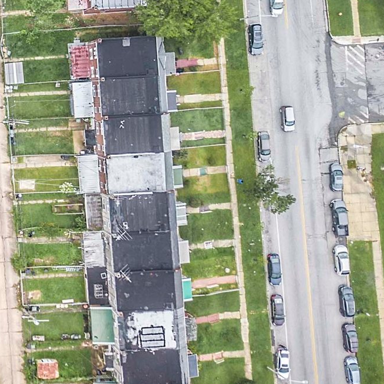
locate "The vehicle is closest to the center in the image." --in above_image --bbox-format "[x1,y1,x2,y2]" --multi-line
[255,129,272,162]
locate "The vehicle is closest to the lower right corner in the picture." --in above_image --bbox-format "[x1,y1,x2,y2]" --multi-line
[342,353,360,384]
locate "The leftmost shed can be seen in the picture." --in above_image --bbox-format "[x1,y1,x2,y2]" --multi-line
[3,62,23,84]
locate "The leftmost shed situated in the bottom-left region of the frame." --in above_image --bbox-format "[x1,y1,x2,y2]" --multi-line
[36,358,58,380]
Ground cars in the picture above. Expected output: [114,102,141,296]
[330,243,349,276]
[339,320,359,354]
[278,105,296,134]
[255,129,272,162]
[273,345,290,377]
[326,161,343,194]
[268,293,285,326]
[337,284,354,317]
[265,252,282,285]
[267,0,285,15]
[342,353,360,384]
[246,23,264,55]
